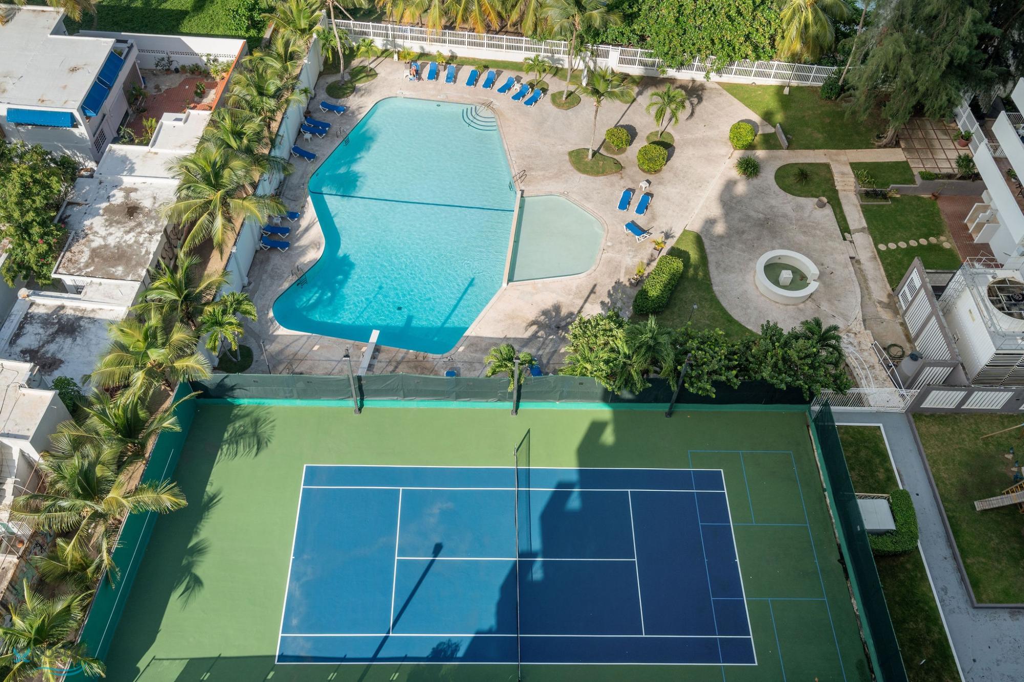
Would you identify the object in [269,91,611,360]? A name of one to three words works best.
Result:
swimming pool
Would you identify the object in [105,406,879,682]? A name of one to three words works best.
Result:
tennis court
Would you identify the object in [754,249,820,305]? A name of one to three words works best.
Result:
fountain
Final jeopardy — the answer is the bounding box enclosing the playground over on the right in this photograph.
[973,422,1024,515]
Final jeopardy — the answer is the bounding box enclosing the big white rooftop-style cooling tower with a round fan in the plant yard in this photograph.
[929,257,1024,395]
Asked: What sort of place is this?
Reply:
sports ground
